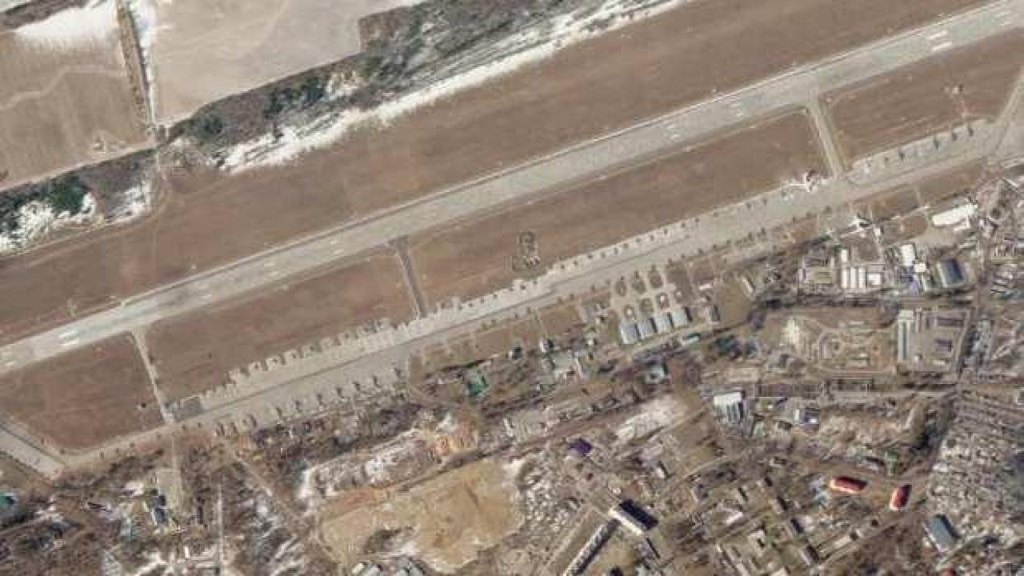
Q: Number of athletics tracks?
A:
0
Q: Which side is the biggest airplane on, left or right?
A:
right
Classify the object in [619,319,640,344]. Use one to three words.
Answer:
hangar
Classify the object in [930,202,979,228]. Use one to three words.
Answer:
hangar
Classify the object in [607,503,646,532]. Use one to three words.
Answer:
building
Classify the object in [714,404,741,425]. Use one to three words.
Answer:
shed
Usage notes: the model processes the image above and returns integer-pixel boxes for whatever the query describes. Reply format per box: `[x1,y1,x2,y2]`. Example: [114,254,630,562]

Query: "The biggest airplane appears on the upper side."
[792,170,814,195]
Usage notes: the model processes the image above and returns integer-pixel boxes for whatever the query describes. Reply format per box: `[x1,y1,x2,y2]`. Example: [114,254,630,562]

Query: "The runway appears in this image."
[0,0,1024,373]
